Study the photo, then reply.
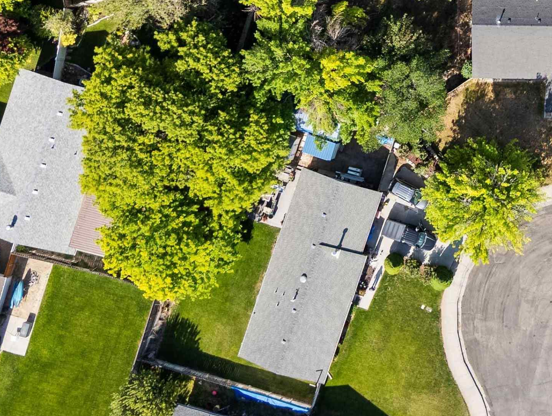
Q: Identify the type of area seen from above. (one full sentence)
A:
The picture captures a residential area.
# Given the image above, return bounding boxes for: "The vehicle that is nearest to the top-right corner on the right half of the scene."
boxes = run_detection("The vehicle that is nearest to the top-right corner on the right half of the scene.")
[387,178,433,213]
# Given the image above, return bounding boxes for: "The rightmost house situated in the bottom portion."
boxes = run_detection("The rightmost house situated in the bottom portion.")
[239,168,383,385]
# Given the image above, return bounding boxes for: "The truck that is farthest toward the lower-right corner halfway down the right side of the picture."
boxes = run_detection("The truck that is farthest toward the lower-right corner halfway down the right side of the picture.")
[381,217,440,252]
